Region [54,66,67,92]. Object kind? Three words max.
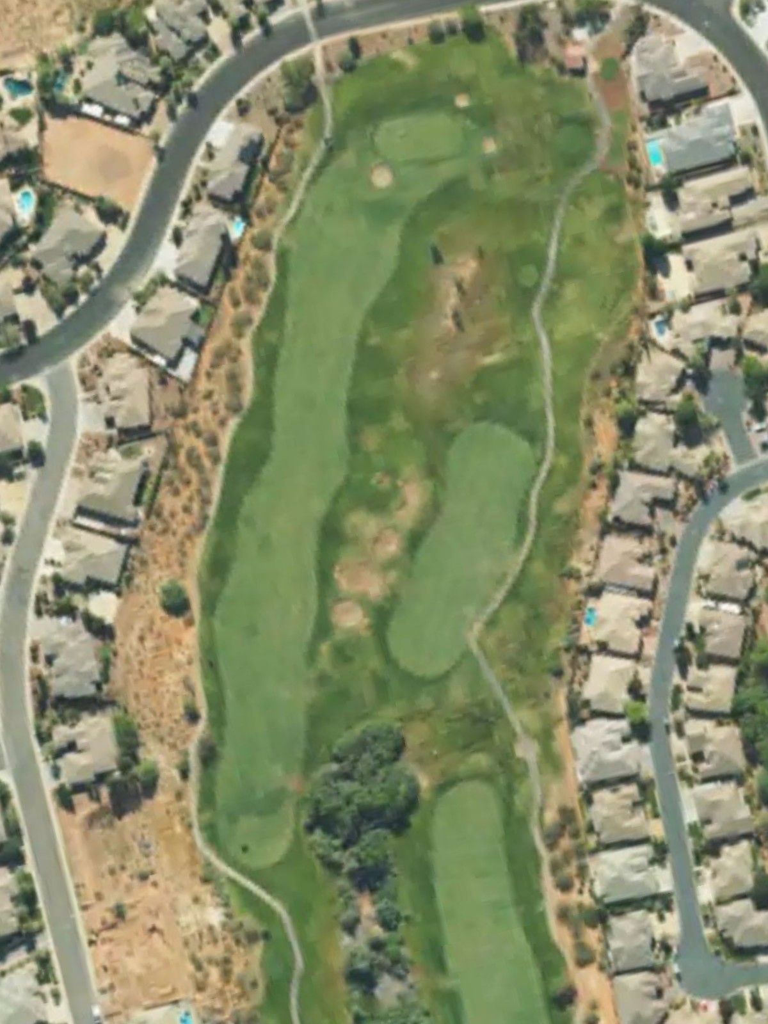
swimming pool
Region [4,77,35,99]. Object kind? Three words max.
swimming pool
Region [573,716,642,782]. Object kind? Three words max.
house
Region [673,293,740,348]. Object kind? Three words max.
house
